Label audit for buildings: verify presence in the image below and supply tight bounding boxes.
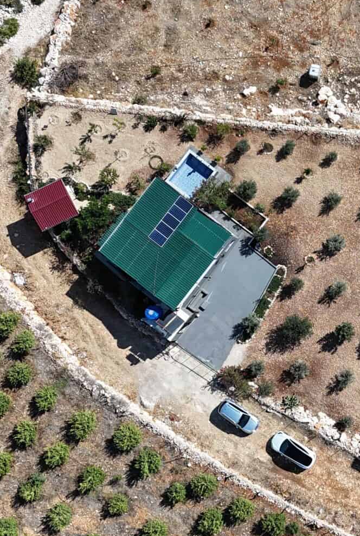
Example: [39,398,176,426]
[24,179,81,231]
[95,176,240,318]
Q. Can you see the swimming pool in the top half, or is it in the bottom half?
top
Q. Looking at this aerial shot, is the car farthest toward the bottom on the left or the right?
right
